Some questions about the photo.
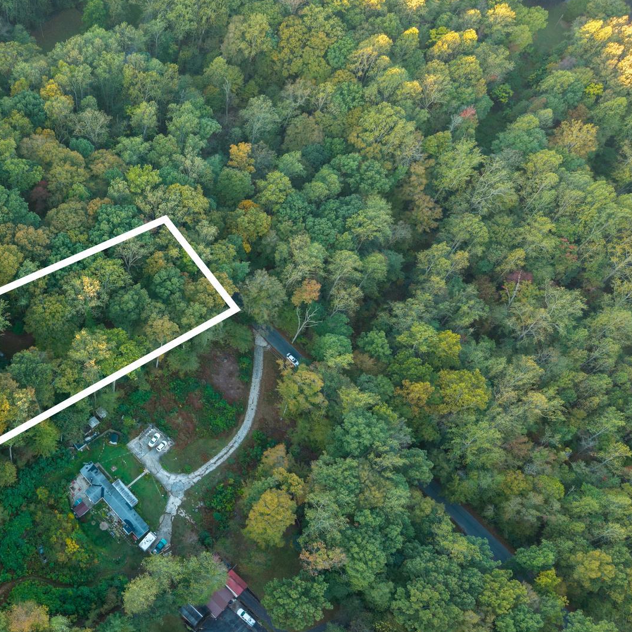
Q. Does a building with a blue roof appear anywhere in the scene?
Yes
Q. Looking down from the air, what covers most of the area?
trees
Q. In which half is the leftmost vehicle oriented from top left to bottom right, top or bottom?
bottom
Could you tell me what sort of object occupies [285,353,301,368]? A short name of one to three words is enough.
car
